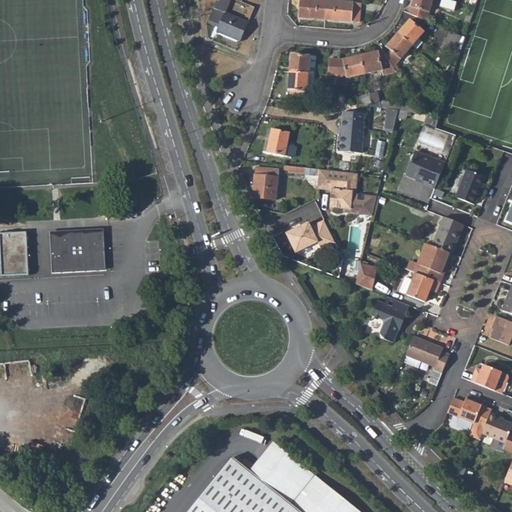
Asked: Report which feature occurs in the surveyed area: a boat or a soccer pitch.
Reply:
soccer pitch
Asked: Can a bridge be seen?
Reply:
No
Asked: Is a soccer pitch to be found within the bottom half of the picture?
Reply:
No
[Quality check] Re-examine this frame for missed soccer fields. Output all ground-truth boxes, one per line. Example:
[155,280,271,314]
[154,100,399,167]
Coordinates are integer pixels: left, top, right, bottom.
[0,0,86,172]
[446,0,512,144]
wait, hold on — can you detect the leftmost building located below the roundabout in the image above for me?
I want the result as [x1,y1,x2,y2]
[186,458,306,512]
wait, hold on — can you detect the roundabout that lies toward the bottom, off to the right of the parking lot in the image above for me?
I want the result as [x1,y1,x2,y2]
[186,270,312,400]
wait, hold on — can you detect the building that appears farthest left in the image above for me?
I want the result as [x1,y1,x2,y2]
[0,230,29,276]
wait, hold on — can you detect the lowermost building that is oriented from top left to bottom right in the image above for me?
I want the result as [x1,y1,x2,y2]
[252,442,362,512]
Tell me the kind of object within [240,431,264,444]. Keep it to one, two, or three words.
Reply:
vehicle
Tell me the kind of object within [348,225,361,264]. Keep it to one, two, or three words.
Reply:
swimming pool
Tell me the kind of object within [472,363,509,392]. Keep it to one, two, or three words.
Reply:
house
